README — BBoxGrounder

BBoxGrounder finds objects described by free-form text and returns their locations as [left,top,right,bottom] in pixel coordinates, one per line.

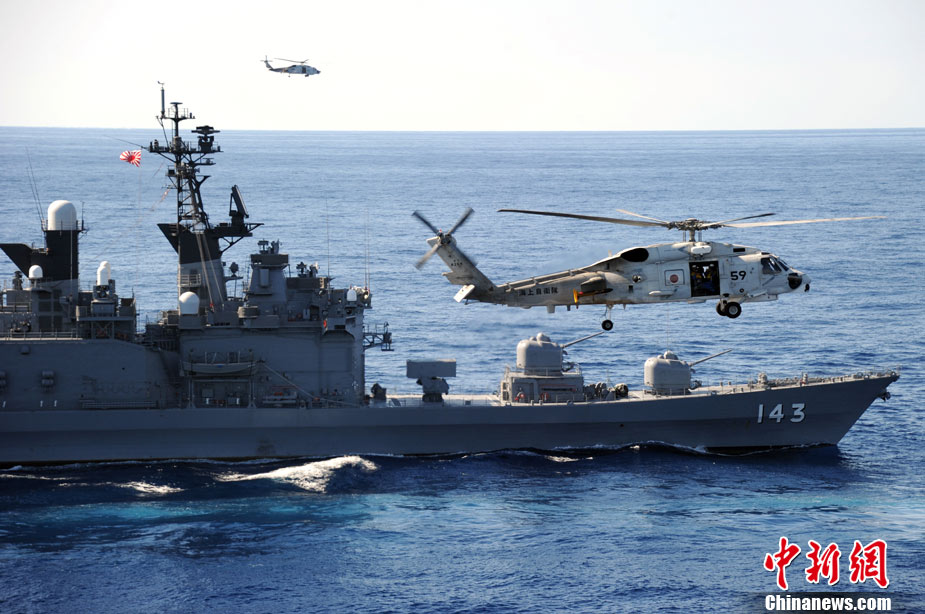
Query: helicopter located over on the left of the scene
[260,55,320,77]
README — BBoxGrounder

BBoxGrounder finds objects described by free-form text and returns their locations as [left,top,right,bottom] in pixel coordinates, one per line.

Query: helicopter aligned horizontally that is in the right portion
[411,207,883,330]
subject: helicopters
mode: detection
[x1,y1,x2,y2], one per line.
[411,207,883,330]
[260,55,320,77]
